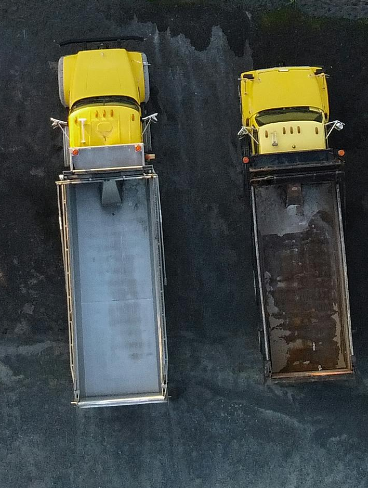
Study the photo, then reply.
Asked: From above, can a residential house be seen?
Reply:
No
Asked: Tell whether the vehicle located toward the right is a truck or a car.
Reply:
truck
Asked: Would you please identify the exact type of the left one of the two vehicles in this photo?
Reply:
truck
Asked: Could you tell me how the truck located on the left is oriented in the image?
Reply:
vertically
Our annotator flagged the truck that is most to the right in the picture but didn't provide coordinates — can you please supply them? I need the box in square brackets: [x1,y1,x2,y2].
[232,64,359,384]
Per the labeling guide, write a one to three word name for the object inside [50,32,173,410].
truck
